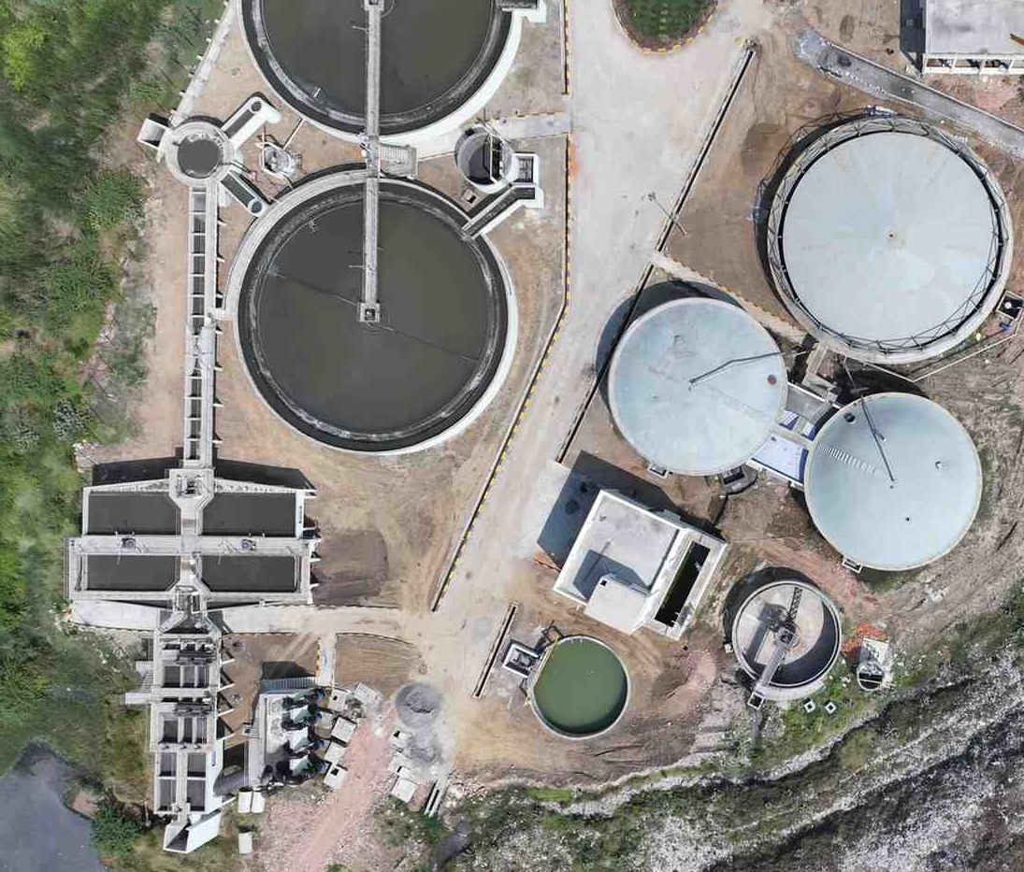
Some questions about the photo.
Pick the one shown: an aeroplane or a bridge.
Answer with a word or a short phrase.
bridge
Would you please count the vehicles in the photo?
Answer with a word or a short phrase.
0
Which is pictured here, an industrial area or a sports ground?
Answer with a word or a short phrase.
industrial area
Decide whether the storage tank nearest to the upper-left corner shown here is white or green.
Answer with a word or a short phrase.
white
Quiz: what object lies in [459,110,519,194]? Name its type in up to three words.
storage tank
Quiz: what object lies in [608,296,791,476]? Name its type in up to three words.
storage tank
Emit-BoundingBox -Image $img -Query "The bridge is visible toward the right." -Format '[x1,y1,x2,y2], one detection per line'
[752,636,790,694]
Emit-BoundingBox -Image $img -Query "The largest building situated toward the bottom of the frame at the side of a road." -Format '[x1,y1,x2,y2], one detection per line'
[550,487,729,641]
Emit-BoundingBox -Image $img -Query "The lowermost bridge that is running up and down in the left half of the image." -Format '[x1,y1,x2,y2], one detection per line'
[359,160,378,305]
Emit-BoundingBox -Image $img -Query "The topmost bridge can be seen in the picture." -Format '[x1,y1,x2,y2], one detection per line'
[362,4,382,141]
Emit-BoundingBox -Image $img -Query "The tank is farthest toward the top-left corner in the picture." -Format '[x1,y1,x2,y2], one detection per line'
[164,96,283,219]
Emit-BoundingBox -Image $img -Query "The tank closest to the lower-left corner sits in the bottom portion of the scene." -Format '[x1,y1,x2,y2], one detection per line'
[61,468,319,602]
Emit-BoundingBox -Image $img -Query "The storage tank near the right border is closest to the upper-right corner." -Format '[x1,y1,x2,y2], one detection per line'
[769,113,1012,363]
